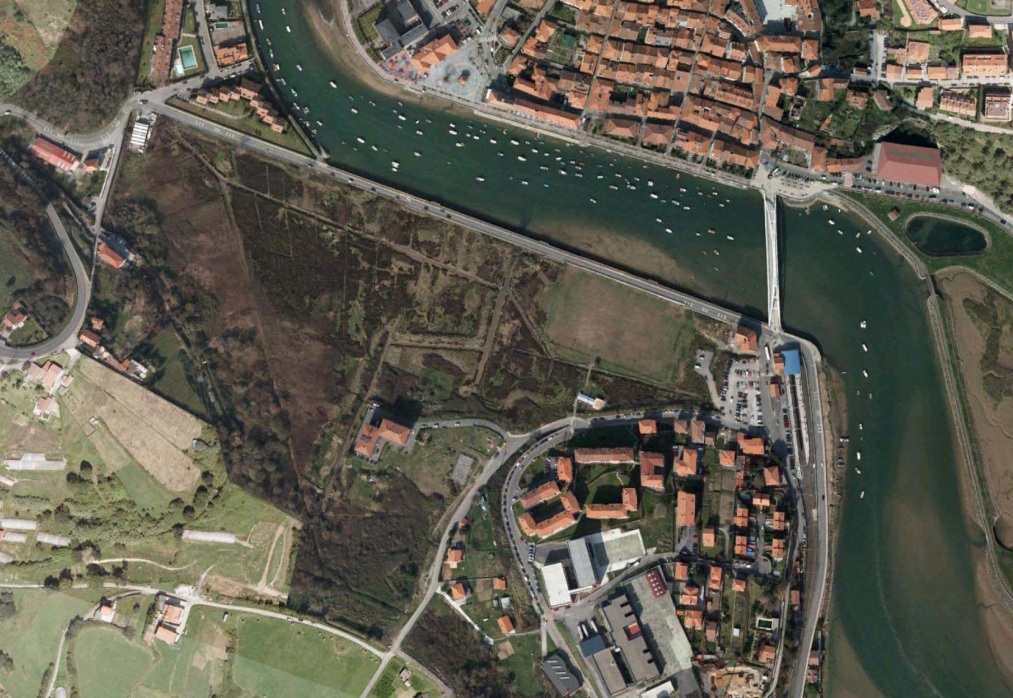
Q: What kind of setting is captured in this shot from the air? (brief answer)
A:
residential area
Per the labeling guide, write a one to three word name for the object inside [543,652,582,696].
building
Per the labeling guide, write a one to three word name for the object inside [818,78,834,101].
house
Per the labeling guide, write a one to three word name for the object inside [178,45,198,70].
swimming pool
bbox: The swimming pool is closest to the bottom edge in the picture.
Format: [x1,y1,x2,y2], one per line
[756,617,779,630]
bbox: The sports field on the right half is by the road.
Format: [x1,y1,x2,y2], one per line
[540,265,688,383]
